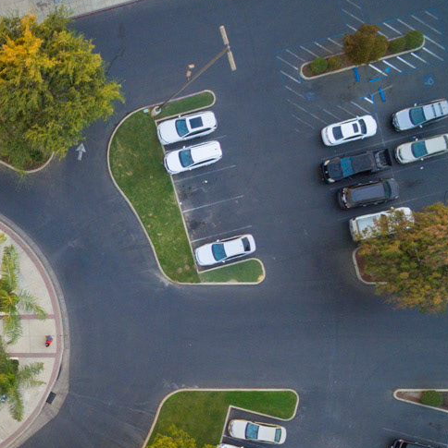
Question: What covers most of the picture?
paved ground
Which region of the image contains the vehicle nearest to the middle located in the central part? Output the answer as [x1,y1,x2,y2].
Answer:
[191,234,254,268]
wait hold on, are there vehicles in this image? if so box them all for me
[315,144,395,186]
[160,142,223,176]
[343,206,415,244]
[224,417,285,446]
[331,176,396,211]
[315,114,375,149]
[390,134,448,167]
[154,110,217,147]
[386,99,448,135]
[191,234,254,268]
